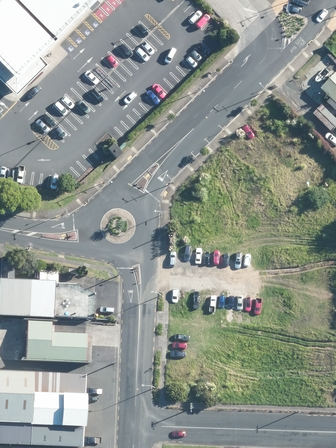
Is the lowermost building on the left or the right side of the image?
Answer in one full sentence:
It is on the left.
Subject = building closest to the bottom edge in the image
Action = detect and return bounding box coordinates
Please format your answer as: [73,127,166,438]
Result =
[0,422,86,446]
